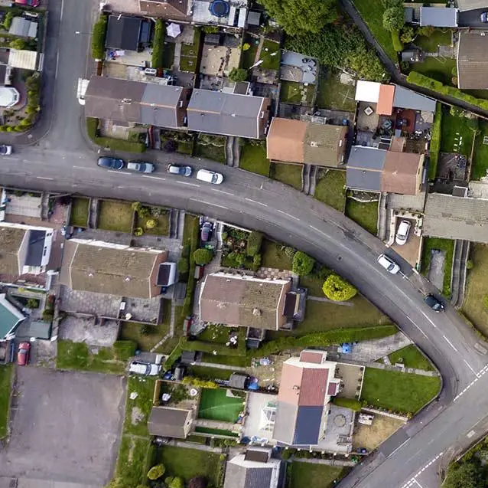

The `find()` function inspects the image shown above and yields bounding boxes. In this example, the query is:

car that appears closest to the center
[199,218,213,244]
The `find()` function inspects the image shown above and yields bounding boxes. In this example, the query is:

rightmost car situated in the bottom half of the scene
[421,289,446,313]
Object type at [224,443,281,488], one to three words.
house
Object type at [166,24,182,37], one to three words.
umbrella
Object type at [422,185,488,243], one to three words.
house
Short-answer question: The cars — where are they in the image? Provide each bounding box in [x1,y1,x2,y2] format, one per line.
[167,163,194,177]
[0,142,16,155]
[395,219,413,245]
[96,155,126,170]
[376,251,402,274]
[421,289,446,313]
[127,159,154,173]
[478,10,488,23]
[16,340,31,366]
[13,0,41,7]
[199,218,213,244]
[194,169,225,184]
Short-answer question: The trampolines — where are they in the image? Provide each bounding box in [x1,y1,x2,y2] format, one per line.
[206,0,228,17]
